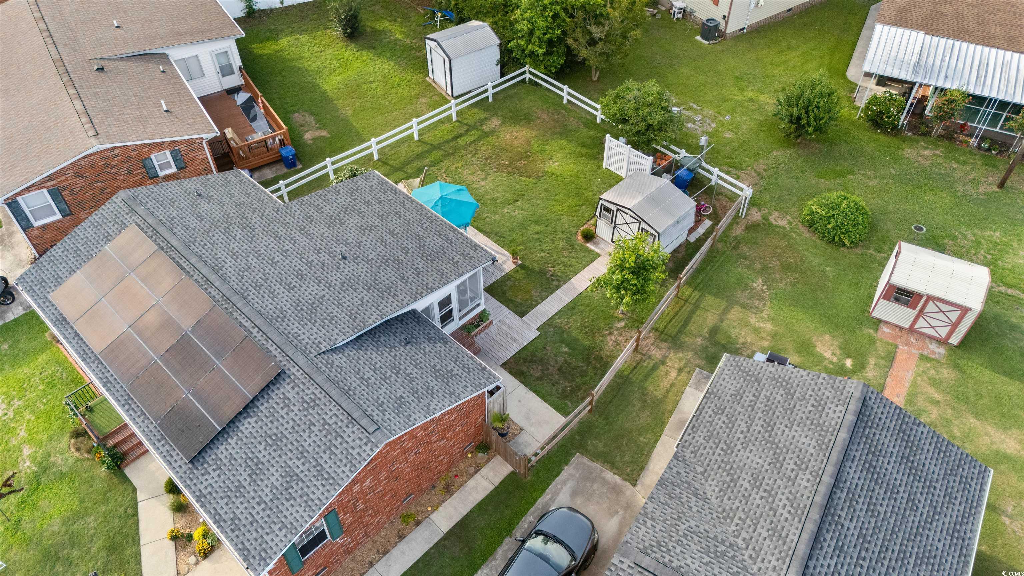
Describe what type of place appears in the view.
residential area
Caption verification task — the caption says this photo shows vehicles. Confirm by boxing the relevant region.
[0,273,12,305]
[494,508,594,576]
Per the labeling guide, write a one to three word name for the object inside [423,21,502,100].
shed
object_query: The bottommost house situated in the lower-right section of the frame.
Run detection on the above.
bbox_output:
[605,355,998,576]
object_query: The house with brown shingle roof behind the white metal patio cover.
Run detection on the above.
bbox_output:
[854,0,1024,154]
